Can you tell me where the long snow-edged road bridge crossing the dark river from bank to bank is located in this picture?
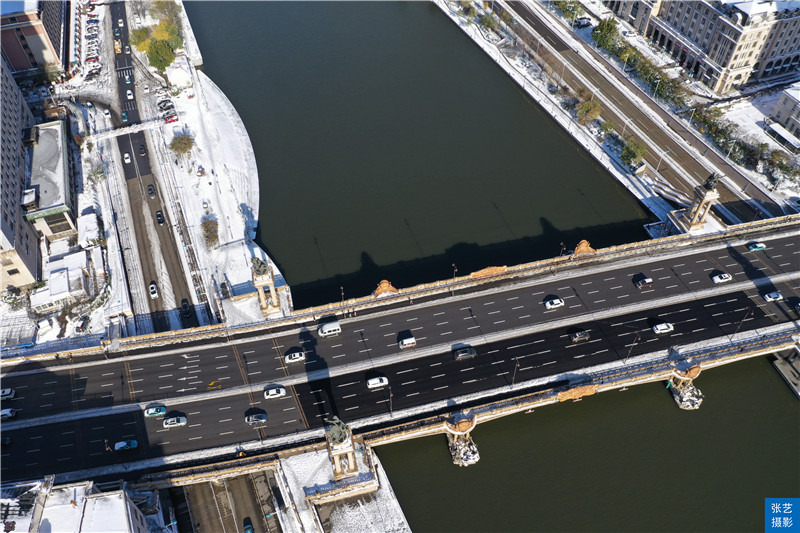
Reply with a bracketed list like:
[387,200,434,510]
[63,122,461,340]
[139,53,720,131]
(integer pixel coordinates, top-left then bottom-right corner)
[0,202,800,533]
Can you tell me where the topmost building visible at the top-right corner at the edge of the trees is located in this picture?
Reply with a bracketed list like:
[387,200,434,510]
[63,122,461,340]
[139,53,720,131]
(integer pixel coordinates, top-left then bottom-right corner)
[604,0,800,92]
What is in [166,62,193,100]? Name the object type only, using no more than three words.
building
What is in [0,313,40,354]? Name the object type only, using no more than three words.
building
